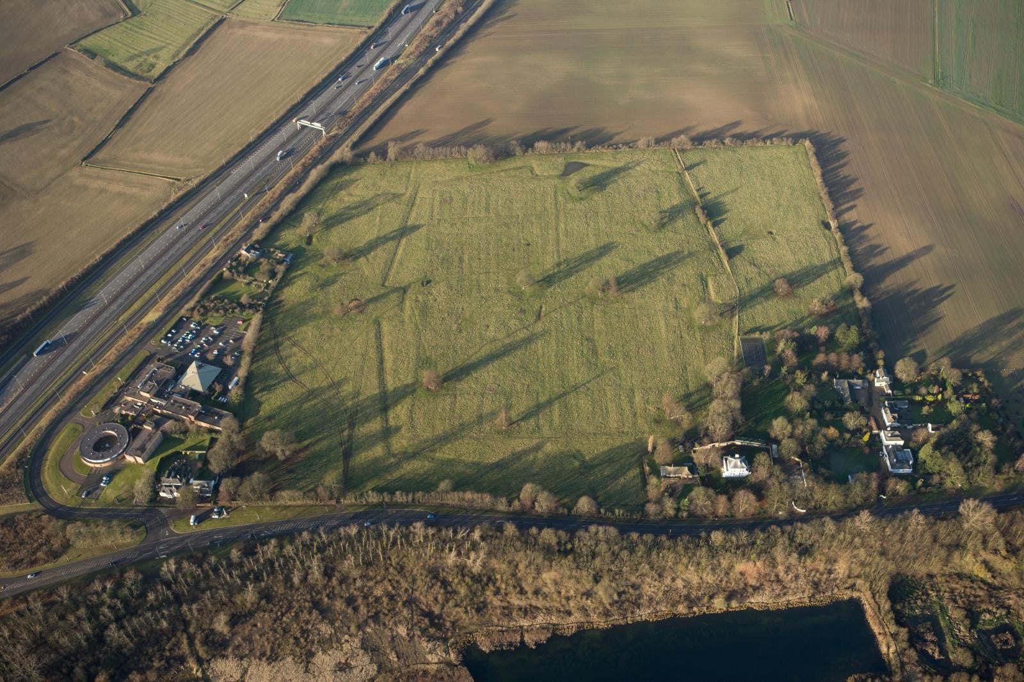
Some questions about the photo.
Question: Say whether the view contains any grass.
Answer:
Yes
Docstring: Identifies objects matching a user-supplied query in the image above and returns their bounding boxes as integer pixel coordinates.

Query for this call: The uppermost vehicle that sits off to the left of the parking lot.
[33,338,52,357]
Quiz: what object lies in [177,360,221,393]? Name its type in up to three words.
building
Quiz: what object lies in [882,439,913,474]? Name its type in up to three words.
house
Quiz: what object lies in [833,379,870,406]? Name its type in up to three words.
barn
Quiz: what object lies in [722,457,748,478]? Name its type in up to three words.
house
